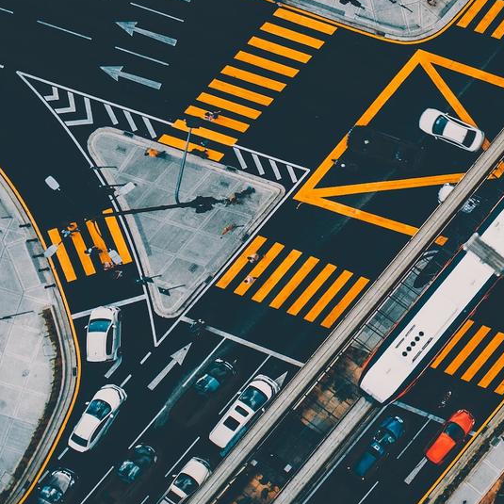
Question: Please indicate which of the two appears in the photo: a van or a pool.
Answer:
van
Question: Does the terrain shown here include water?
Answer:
No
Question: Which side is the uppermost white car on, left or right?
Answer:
right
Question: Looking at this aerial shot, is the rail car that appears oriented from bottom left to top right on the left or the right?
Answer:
right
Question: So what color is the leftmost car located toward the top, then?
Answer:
black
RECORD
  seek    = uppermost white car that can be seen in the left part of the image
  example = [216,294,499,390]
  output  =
[85,303,122,362]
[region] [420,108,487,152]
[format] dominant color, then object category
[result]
white car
